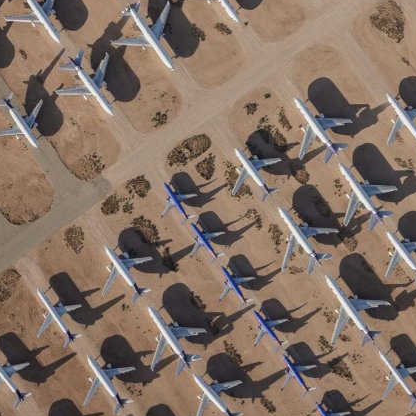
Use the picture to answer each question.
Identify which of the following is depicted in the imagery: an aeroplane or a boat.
aeroplane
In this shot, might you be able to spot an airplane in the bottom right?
Yes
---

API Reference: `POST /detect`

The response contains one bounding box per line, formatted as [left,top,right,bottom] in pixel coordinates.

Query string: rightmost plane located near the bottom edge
[379,352,416,408]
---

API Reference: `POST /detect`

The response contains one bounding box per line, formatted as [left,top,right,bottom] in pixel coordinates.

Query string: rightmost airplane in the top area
[385,94,416,154]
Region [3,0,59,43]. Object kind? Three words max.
airplane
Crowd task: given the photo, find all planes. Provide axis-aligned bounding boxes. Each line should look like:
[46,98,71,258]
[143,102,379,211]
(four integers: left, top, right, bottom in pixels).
[199,0,238,22]
[53,51,113,115]
[316,403,350,416]
[219,266,255,309]
[109,0,173,69]
[379,352,416,408]
[282,355,317,397]
[37,289,82,347]
[103,246,153,302]
[193,374,242,416]
[278,208,339,275]
[294,98,353,163]
[0,94,41,147]
[385,94,416,154]
[161,183,197,224]
[325,276,390,349]
[254,312,288,351]
[232,149,280,202]
[82,355,135,414]
[0,360,31,406]
[148,307,205,373]
[383,232,416,285]
[190,223,224,263]
[3,0,59,43]
[338,163,397,229]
